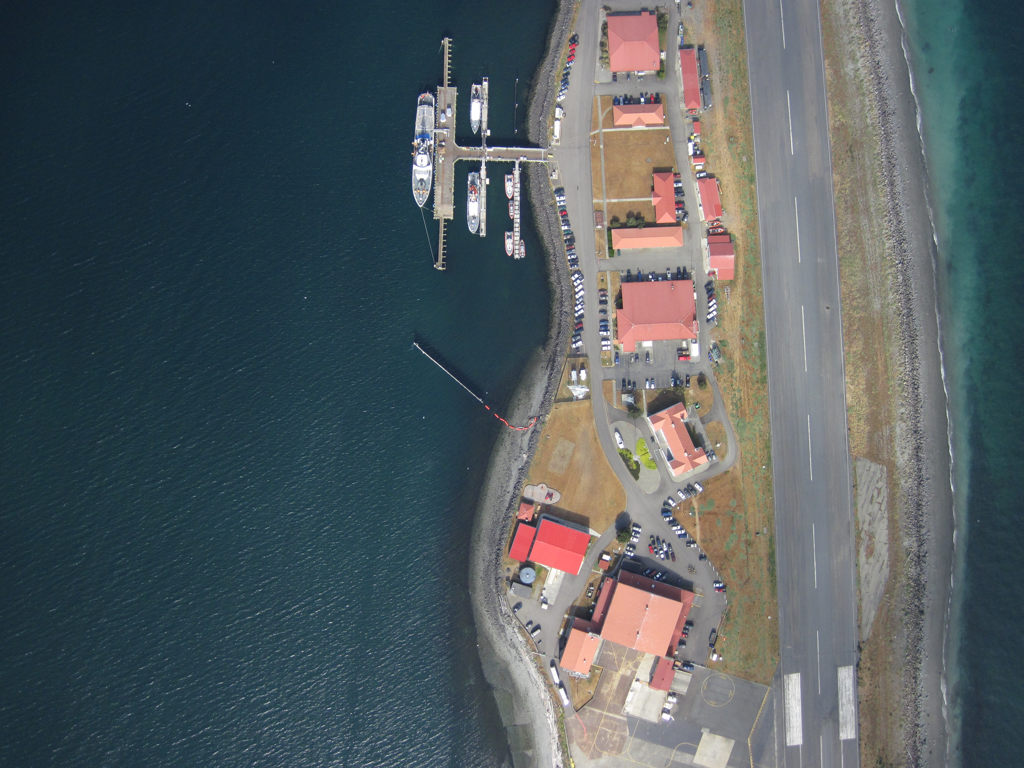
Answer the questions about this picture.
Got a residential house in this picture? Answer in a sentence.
Yes, the image includes a residential house.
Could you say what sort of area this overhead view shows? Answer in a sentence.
The picture captures a port.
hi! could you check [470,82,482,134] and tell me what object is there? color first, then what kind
white vessel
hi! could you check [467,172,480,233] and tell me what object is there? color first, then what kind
white vessel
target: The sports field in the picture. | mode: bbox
[527,400,626,532]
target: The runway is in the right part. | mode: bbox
[742,0,861,768]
